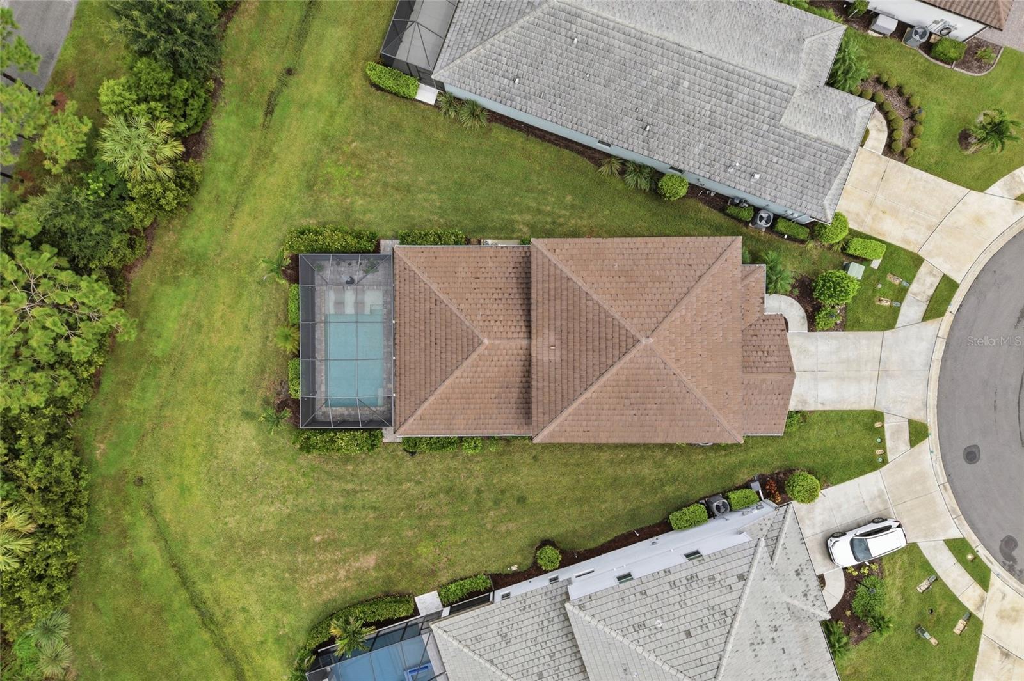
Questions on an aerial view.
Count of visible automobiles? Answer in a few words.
one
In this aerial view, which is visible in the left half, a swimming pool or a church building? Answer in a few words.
swimming pool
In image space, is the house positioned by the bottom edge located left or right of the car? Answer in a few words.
to the left of it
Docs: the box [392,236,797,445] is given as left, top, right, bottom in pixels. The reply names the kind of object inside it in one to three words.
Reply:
house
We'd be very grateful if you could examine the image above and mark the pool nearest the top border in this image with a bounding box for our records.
[323,283,386,410]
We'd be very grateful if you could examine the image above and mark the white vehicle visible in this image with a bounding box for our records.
[825,516,911,568]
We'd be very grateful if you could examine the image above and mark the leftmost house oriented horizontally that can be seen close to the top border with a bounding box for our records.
[432,0,878,226]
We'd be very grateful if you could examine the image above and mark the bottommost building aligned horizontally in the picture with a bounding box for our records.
[428,499,842,681]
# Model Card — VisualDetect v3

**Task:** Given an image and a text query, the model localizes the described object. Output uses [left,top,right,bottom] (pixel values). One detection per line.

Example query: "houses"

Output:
[432,0,878,226]
[428,499,842,681]
[846,0,1016,43]
[392,236,797,445]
